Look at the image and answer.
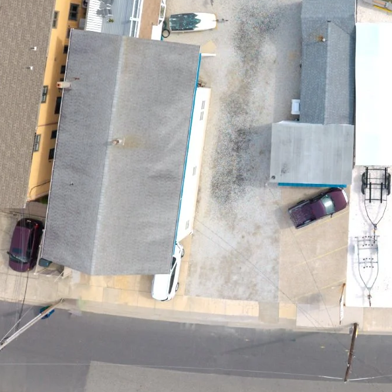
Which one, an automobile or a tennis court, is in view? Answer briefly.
automobile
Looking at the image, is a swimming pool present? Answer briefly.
No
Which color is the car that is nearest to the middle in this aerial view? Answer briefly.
white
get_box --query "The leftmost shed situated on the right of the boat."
[270,0,357,191]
